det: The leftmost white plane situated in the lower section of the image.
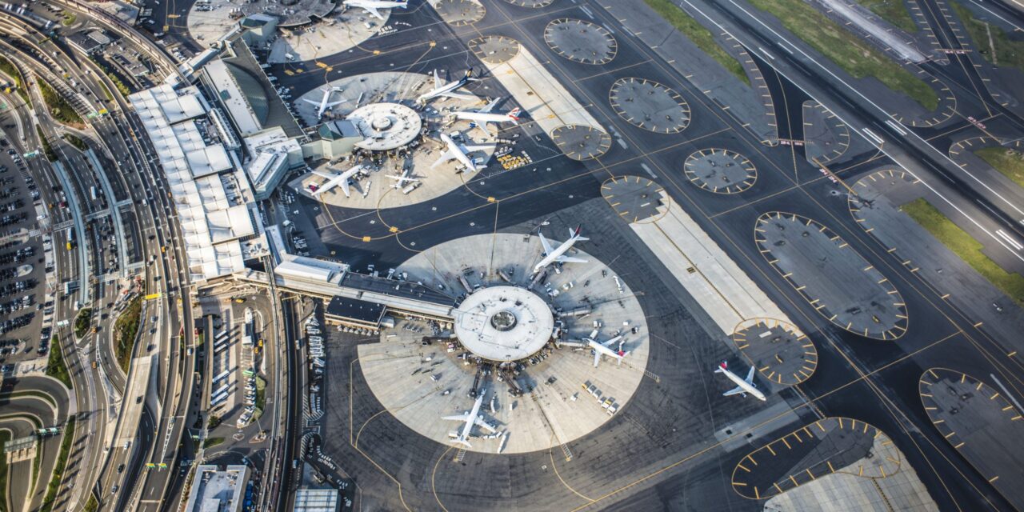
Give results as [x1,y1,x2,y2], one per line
[442,390,497,447]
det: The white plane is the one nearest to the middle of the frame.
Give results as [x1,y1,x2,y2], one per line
[534,226,586,271]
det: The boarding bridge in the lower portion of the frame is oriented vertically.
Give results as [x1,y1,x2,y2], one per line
[470,368,482,397]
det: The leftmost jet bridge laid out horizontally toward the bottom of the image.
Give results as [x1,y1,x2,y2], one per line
[423,331,457,346]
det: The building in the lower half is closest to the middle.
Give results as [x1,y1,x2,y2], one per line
[455,287,553,363]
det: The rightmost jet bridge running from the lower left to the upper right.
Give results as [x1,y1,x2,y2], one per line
[526,266,545,292]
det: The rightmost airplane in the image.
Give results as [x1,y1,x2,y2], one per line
[712,358,766,401]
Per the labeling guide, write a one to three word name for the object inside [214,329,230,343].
vehicle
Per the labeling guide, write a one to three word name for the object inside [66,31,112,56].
building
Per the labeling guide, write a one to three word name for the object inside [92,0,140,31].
shed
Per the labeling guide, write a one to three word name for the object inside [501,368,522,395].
jet bridge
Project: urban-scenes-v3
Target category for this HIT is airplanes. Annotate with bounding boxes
[339,0,407,16]
[587,336,630,368]
[306,166,363,198]
[712,358,766,401]
[434,135,492,174]
[385,168,418,188]
[442,390,497,447]
[452,98,519,138]
[304,86,345,119]
[534,226,586,271]
[417,65,475,104]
